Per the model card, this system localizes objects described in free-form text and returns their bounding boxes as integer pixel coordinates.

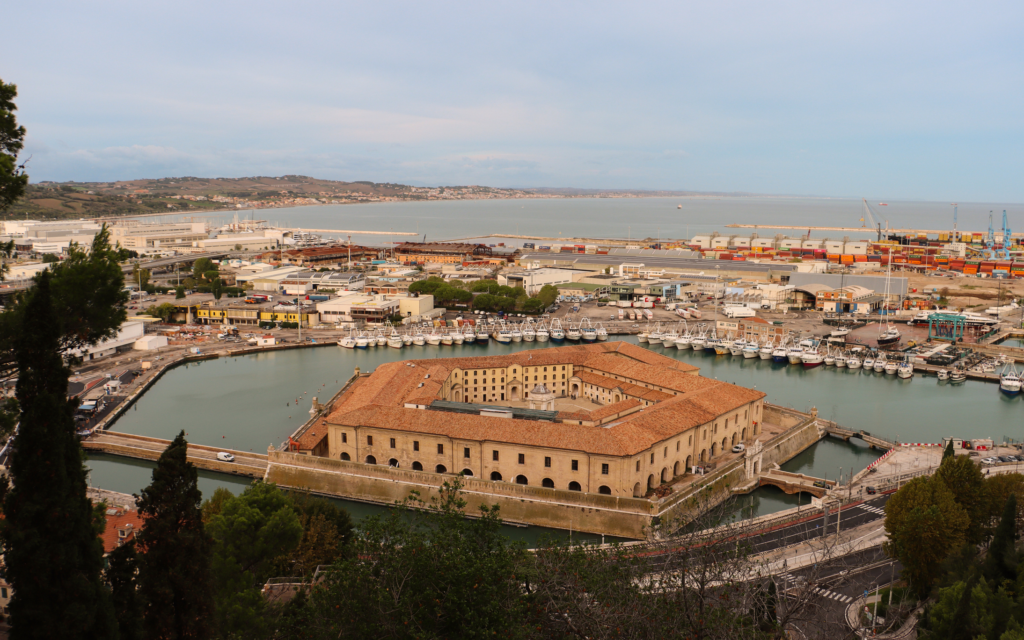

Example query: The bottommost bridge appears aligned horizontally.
[759,477,835,504]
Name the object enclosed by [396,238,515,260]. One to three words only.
hangar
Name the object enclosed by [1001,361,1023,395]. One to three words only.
boat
